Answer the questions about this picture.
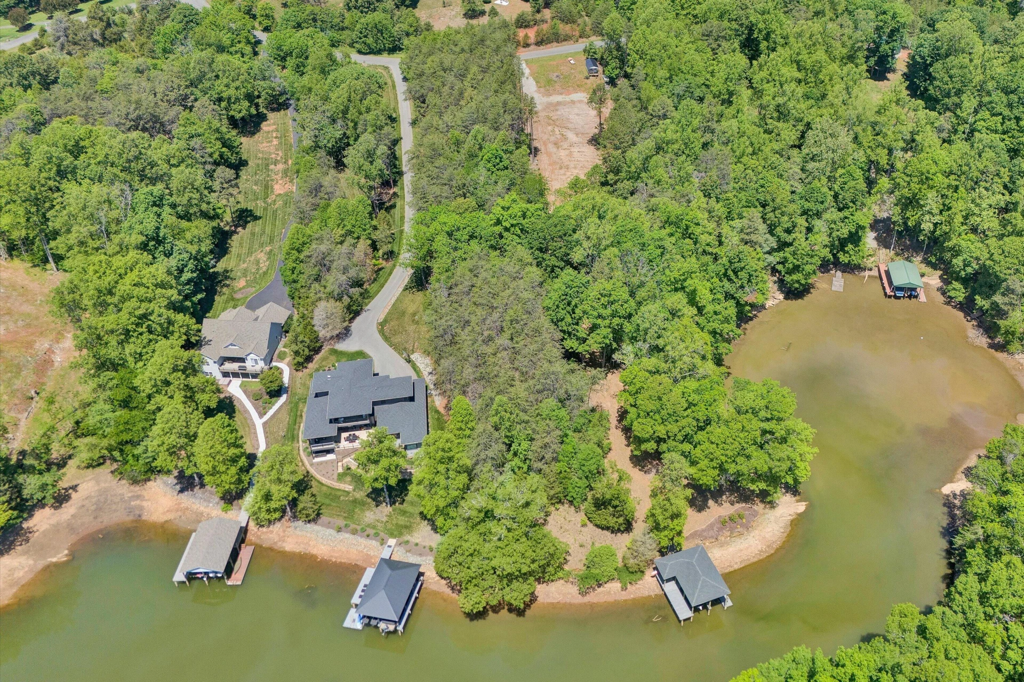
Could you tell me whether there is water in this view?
Yes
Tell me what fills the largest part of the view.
trees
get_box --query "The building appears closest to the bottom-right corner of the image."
[651,545,733,625]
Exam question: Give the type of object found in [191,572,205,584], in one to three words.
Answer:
boat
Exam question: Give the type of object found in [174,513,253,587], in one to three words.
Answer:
building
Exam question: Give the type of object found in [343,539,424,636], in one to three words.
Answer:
building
